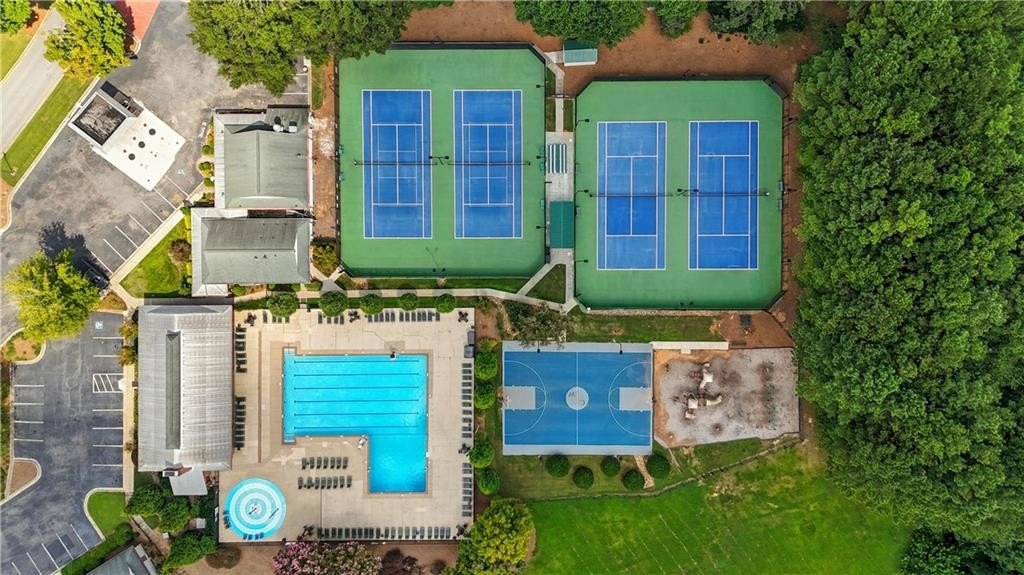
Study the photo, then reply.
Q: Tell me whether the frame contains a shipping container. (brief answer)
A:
No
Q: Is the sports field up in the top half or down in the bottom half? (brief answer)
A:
bottom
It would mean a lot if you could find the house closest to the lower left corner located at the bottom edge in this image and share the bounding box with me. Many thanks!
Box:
[87,537,162,575]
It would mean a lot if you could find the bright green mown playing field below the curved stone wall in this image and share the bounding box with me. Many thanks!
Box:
[466,448,930,575]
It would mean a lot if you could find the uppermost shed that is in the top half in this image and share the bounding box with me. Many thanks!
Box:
[563,40,598,67]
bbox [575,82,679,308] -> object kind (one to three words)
tennis court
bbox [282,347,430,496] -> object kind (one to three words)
swimming pool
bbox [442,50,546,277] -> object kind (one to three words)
tennis court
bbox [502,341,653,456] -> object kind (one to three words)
basketball court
